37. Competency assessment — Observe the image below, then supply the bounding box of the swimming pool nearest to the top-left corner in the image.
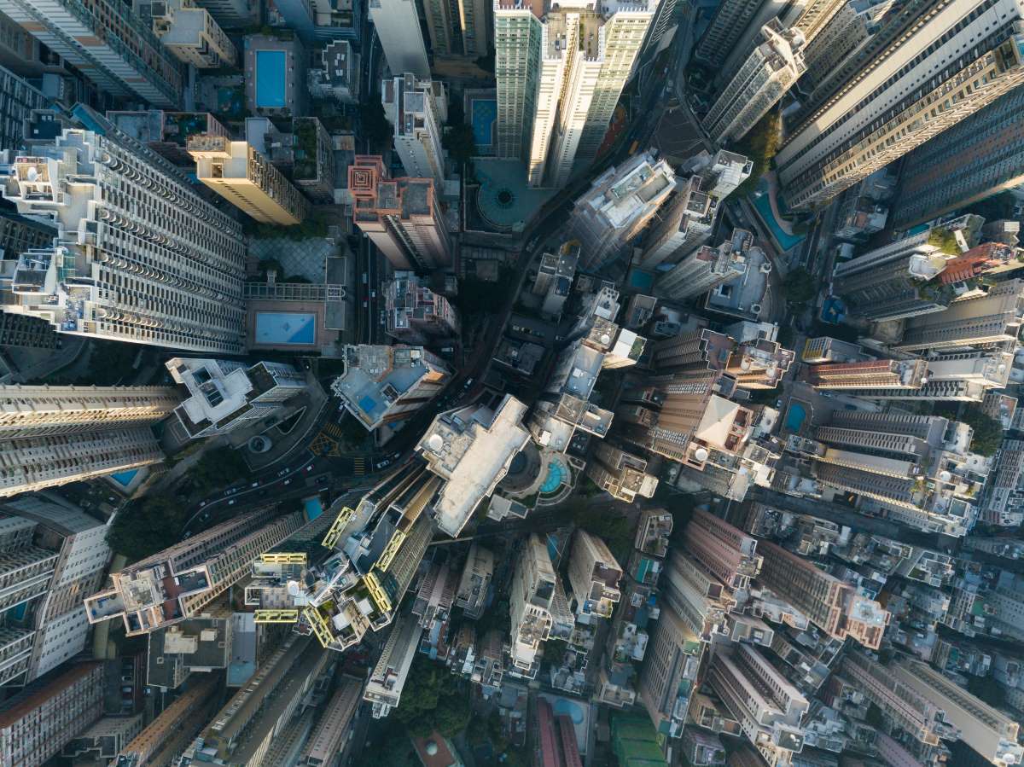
[256,50,286,106]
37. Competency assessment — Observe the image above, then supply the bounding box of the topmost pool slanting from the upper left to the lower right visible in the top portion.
[755,192,802,248]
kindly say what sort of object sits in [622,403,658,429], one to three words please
building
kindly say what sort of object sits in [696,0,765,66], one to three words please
building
